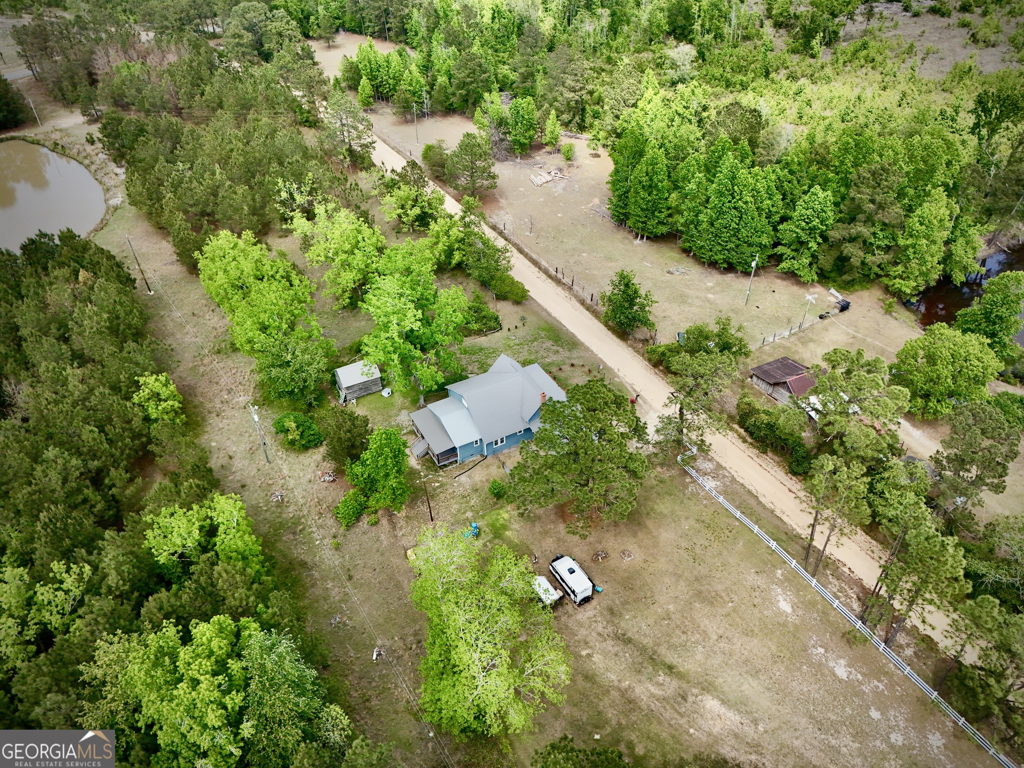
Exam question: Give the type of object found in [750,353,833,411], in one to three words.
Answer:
barn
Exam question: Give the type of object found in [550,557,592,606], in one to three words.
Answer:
vehicle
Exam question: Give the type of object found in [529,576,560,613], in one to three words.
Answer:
trailer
